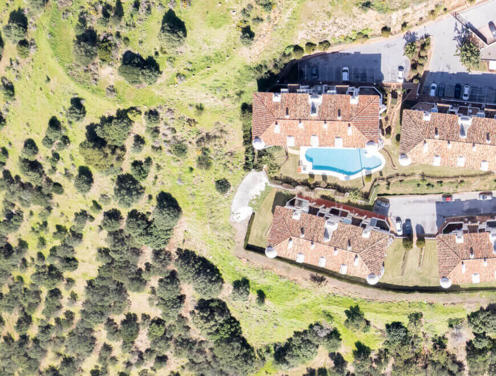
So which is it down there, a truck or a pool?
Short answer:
pool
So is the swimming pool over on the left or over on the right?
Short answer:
right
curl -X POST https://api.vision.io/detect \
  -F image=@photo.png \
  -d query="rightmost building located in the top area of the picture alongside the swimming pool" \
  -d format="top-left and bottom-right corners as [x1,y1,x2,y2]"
[397,101,496,170]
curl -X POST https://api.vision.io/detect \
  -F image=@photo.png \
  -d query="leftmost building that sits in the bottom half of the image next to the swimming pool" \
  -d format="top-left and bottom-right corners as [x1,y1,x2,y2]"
[264,196,399,283]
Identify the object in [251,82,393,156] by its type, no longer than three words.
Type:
building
